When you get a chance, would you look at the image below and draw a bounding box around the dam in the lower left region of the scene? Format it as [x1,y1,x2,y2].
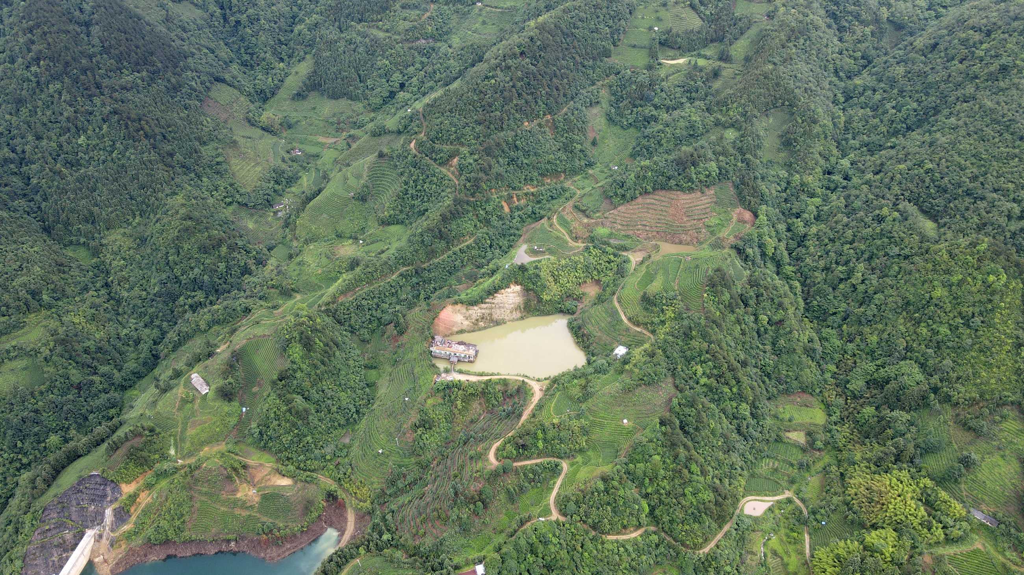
[59,530,96,575]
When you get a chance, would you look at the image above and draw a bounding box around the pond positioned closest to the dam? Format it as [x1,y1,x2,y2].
[87,528,339,575]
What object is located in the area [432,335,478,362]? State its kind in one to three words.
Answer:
house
